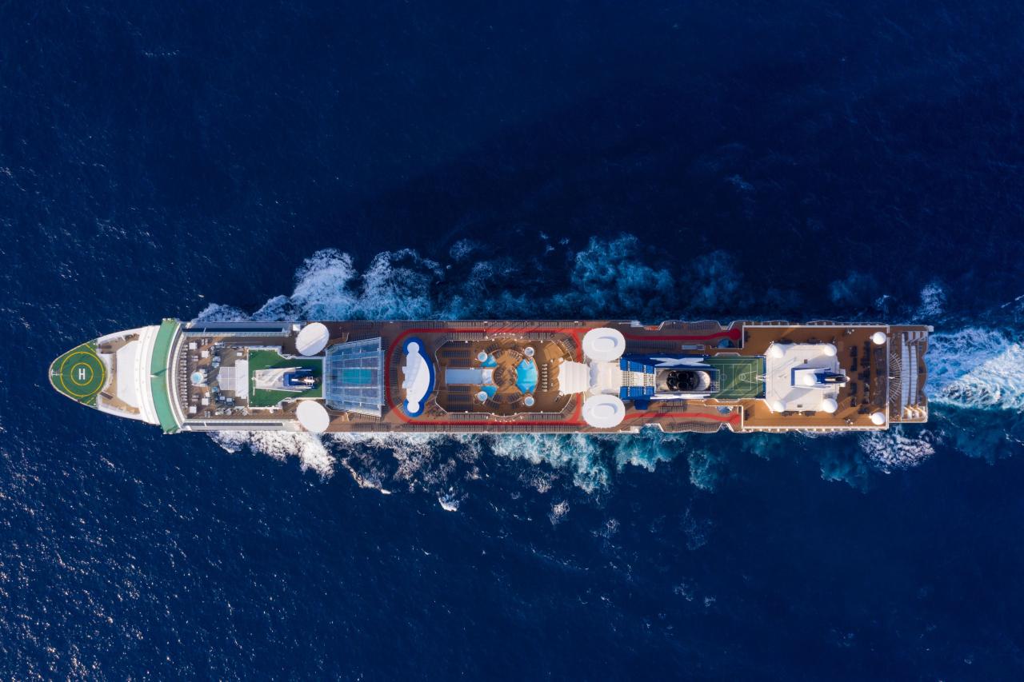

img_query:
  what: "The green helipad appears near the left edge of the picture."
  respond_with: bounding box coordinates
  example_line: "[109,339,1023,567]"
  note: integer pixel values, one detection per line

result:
[50,338,107,409]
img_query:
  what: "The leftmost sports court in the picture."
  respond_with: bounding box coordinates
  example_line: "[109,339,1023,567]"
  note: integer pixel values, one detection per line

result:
[705,352,764,402]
